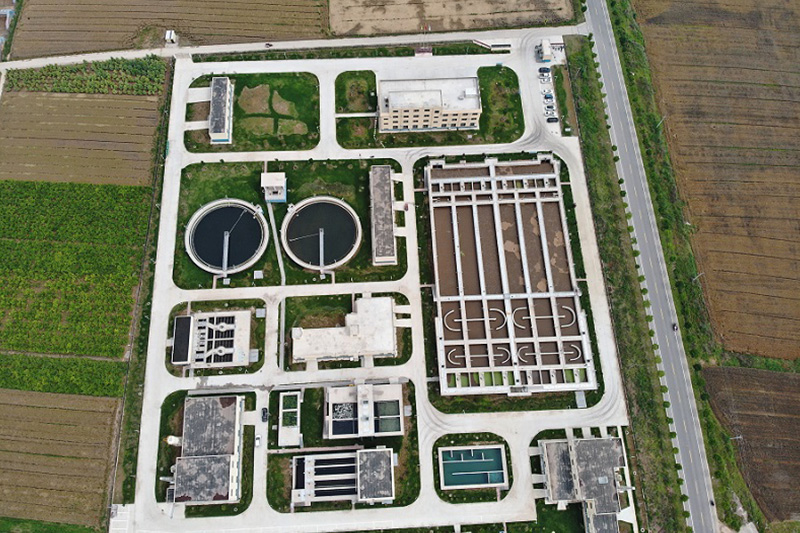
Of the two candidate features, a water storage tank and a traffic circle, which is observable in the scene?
water storage tank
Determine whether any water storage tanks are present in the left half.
Yes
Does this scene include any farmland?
Yes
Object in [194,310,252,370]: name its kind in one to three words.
water tank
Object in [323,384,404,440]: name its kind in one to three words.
water tank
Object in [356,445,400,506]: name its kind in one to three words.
building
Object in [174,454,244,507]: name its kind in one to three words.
house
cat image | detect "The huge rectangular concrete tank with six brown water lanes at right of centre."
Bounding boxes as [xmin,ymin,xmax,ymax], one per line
[423,153,598,399]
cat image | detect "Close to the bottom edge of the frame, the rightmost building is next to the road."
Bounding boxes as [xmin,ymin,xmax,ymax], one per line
[536,437,625,533]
